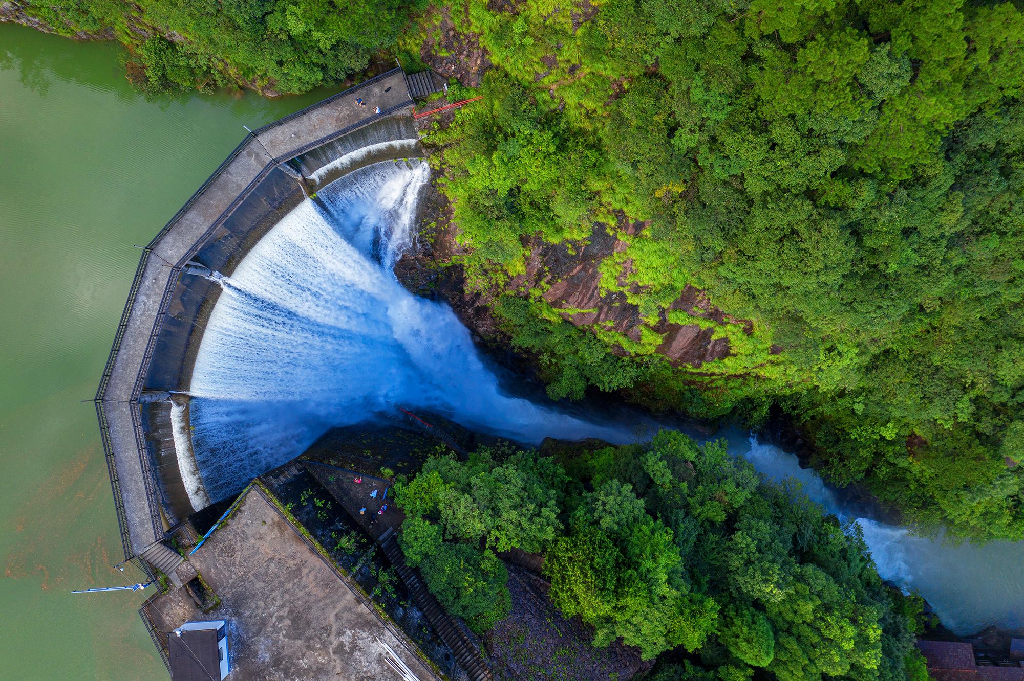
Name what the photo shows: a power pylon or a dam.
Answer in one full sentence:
There is a dam in the scene.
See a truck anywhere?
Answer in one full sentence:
No, the picture doesn't show any truck.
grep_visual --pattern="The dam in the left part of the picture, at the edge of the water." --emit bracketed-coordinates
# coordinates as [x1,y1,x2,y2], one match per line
[142,94,462,541]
